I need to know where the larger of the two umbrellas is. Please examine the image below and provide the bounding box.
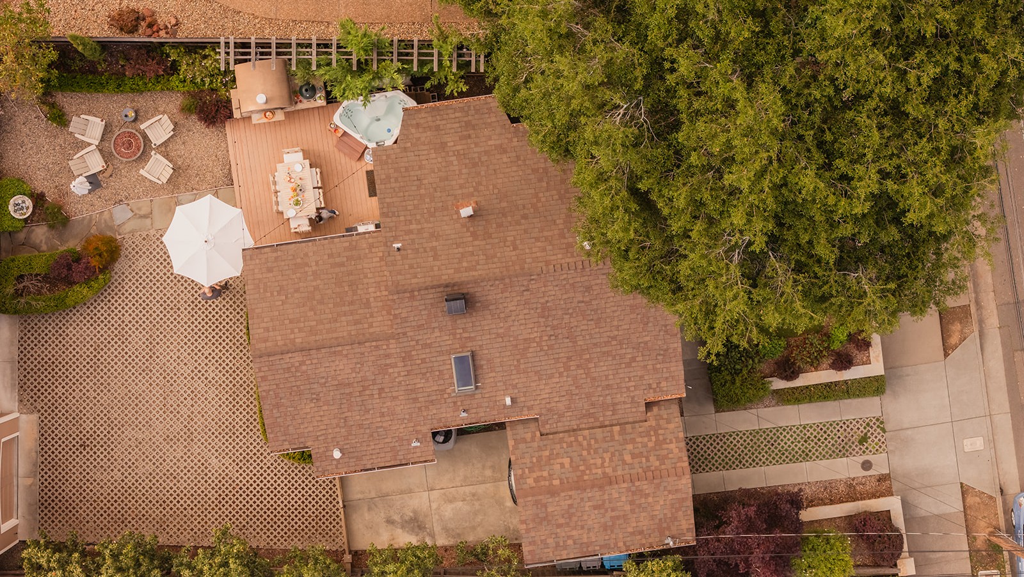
[163,194,253,286]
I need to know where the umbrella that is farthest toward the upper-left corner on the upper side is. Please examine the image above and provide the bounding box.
[65,171,104,199]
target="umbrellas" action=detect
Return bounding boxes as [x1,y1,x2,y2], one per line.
[163,194,253,286]
[65,171,104,199]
